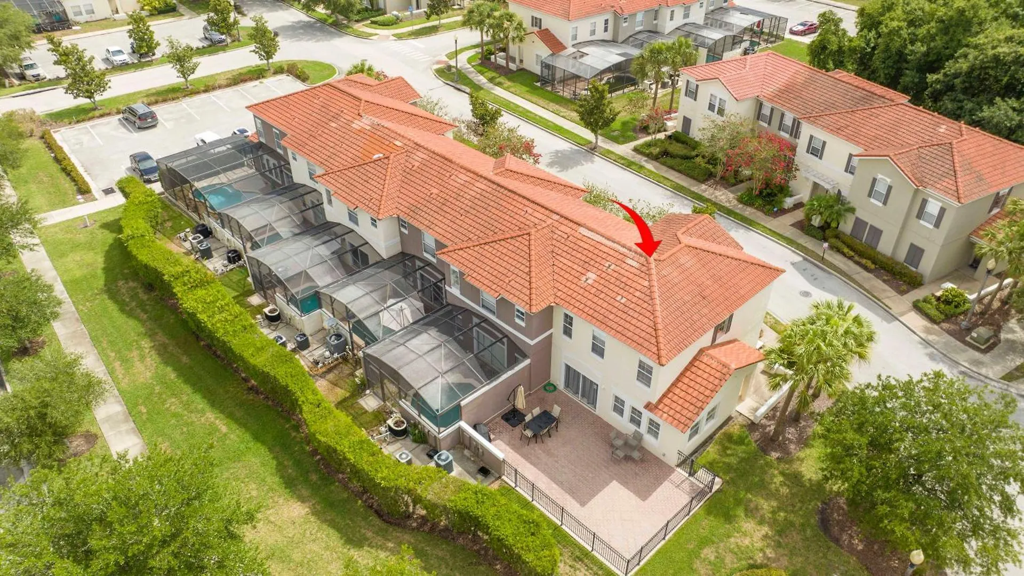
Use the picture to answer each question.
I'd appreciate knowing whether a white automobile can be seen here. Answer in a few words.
Yes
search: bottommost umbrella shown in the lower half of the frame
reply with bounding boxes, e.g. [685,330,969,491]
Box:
[504,384,528,426]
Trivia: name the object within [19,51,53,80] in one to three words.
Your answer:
car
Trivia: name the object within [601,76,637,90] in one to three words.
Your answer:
swimming pool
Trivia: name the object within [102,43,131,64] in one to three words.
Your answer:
car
